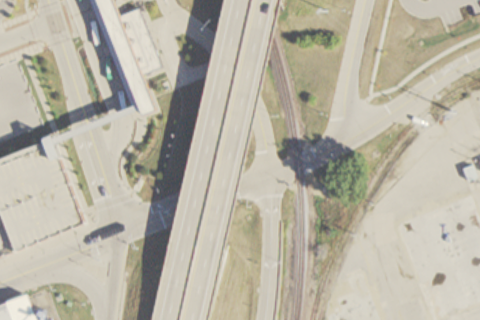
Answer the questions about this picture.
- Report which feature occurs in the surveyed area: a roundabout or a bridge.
bridge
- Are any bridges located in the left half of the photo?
Yes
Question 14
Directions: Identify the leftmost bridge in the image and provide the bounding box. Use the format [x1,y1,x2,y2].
[54,107,138,144]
